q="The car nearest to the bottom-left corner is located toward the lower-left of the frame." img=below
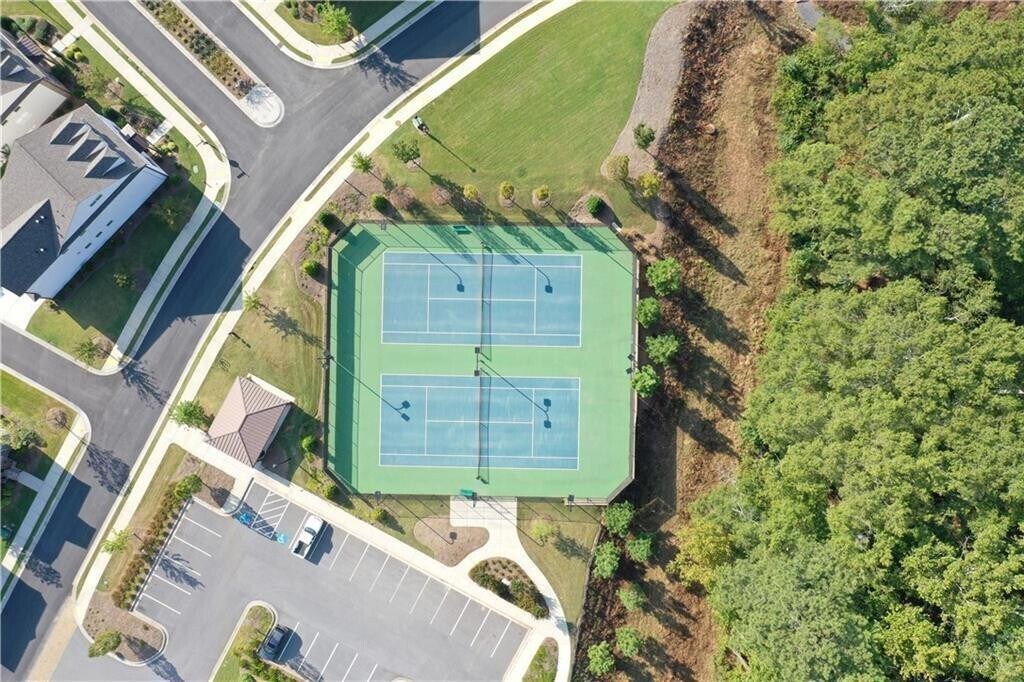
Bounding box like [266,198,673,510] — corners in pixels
[261,623,291,662]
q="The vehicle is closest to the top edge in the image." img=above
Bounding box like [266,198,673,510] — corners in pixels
[290,512,326,563]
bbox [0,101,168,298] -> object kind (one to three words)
house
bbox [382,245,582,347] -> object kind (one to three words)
tennis court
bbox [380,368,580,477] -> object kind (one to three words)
tennis court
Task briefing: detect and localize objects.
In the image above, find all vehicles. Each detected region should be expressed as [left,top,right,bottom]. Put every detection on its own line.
[261,623,291,662]
[290,512,326,563]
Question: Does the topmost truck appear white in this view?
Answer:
Yes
